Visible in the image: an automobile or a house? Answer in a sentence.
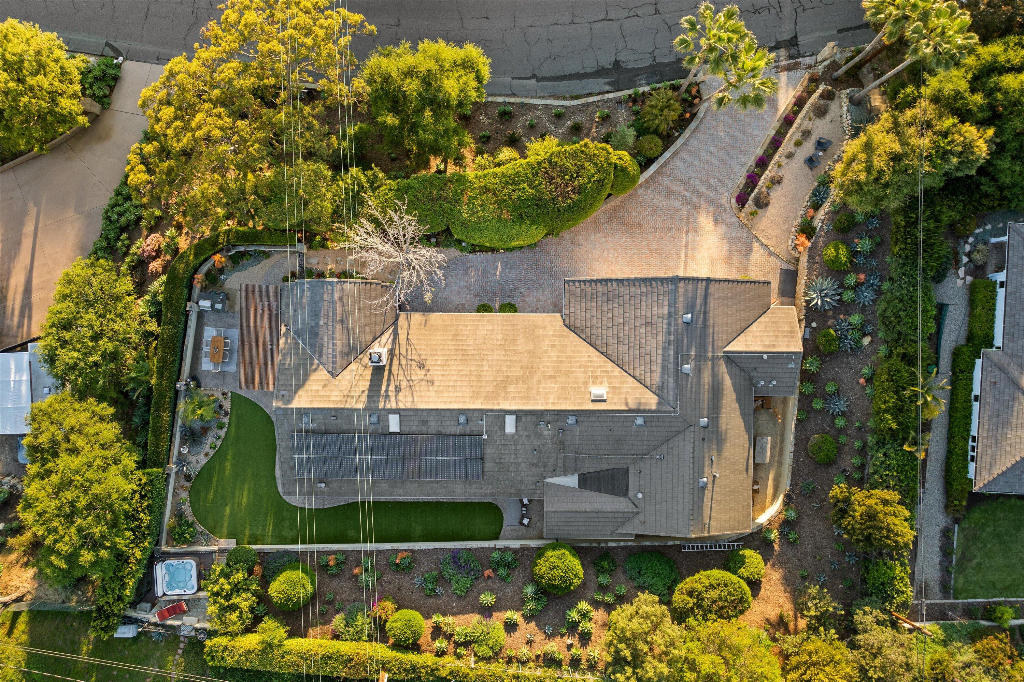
Looking from above, you can make out a house.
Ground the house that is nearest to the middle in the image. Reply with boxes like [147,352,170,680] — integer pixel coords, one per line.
[271,274,805,540]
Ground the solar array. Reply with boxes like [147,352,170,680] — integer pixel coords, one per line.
[291,434,482,480]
